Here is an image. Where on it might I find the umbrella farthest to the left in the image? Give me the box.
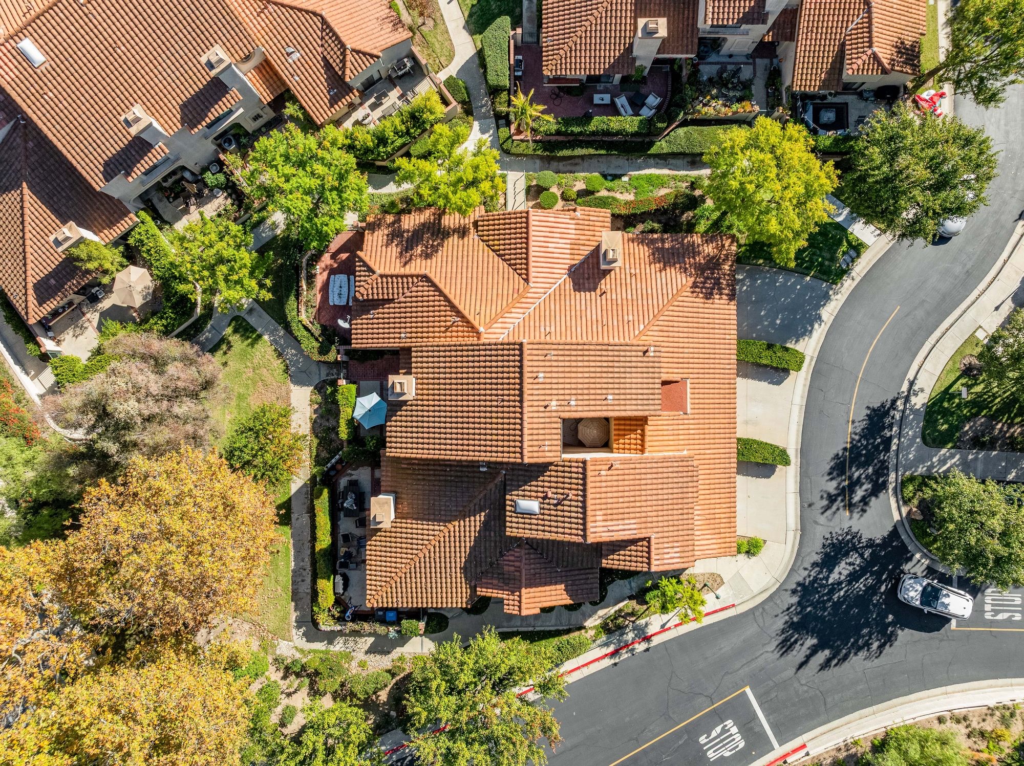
[115,267,161,308]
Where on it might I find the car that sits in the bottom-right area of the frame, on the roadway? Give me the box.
[892,572,977,621]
